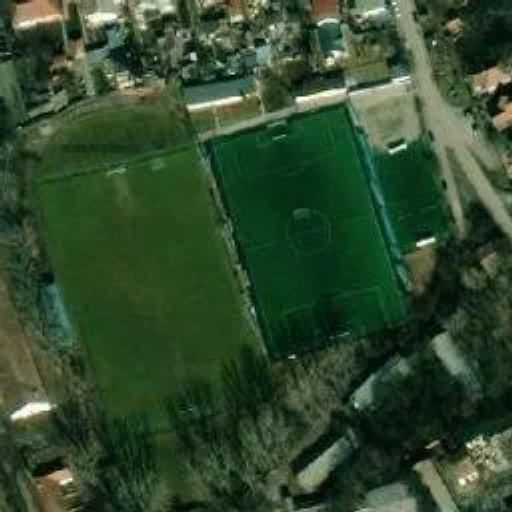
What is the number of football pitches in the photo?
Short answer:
3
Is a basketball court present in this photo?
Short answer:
No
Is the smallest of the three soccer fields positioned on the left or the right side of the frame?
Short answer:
right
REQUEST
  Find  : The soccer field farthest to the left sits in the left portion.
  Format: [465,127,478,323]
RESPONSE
[40,148,276,425]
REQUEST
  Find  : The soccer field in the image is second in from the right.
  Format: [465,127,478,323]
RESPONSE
[212,104,407,356]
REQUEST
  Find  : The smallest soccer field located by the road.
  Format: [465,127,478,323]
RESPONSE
[369,142,447,250]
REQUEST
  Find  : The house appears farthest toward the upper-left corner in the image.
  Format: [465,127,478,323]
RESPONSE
[10,0,63,29]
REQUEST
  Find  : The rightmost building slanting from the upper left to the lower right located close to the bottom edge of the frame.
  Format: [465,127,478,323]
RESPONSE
[414,458,464,512]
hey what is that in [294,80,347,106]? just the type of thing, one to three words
building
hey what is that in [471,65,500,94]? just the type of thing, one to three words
house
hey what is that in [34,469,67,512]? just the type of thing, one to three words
house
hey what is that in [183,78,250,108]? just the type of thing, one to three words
building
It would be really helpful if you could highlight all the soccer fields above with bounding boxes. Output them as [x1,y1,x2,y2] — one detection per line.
[40,148,276,425]
[212,104,407,356]
[369,142,447,250]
